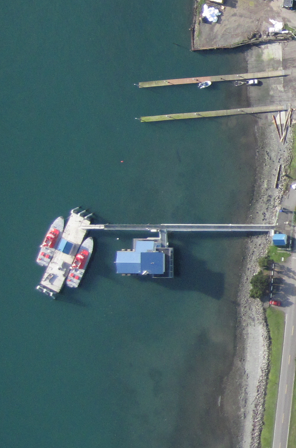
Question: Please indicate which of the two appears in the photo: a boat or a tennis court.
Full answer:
I can see a boat in this picture.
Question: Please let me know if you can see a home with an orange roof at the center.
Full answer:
No, I see no home with an orange roof at the center.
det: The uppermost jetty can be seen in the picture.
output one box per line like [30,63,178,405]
[134,70,286,88]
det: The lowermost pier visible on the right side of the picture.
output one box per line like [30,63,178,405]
[149,224,275,248]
